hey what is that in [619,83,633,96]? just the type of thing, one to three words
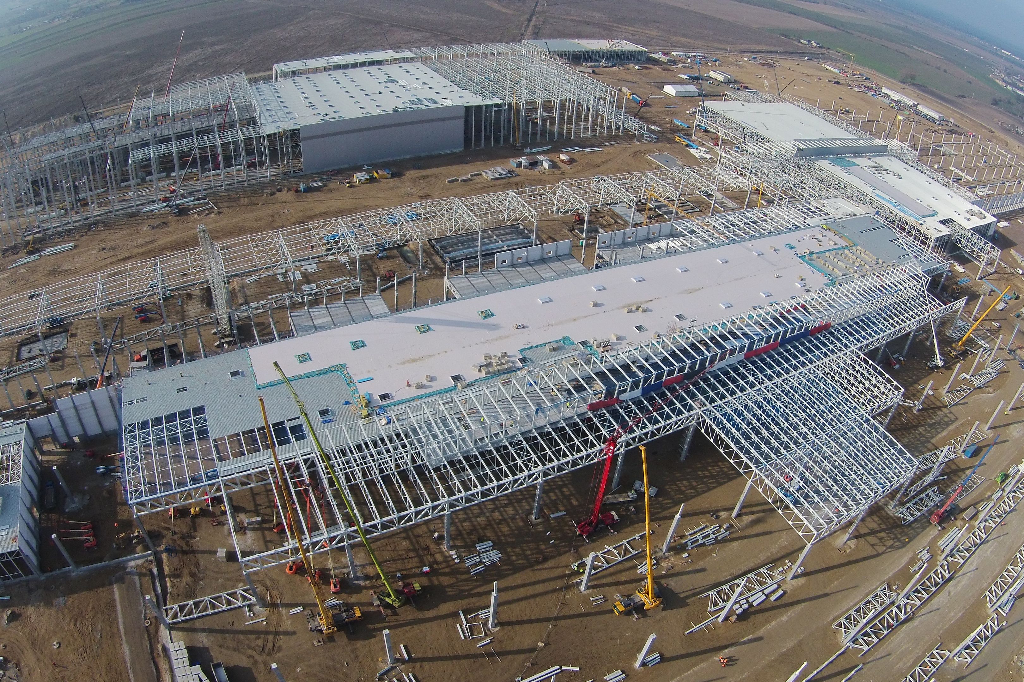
vehicle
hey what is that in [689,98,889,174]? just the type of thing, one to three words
building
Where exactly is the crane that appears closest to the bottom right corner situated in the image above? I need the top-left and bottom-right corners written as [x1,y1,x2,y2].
[921,450,991,536]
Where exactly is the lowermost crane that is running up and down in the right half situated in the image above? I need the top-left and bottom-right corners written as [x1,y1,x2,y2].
[595,439,677,629]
